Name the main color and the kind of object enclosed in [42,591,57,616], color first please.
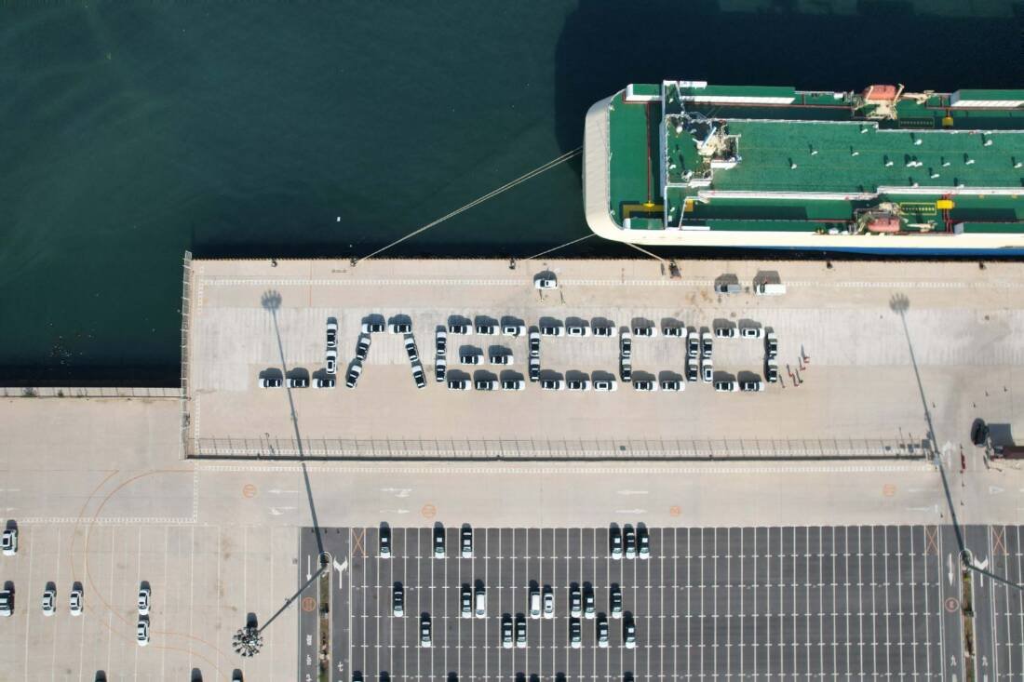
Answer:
white car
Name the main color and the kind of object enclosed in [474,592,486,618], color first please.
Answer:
white vehicle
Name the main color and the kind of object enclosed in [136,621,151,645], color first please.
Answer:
white car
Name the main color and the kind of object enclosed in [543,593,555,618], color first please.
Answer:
white vehicle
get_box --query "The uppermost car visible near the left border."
[2,530,18,554]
